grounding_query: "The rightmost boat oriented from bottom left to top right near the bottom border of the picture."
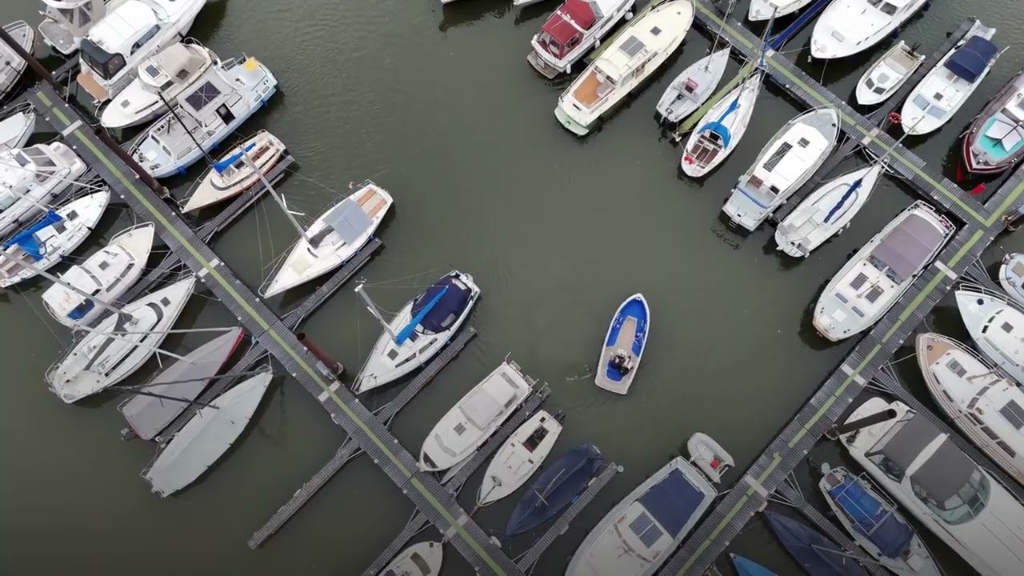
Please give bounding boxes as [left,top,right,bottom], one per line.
[564,454,731,576]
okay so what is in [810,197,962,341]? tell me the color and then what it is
white boat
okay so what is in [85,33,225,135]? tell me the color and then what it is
white boat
